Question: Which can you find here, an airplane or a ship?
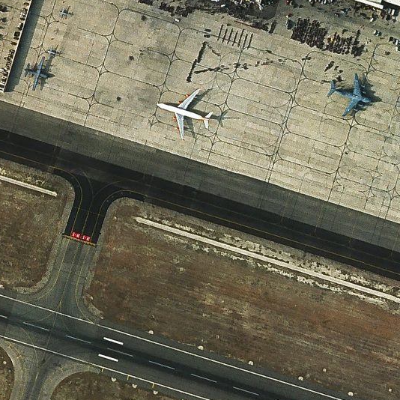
airplane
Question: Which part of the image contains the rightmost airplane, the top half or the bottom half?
top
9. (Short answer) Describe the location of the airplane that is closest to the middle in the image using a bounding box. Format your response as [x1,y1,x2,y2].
[157,89,211,138]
